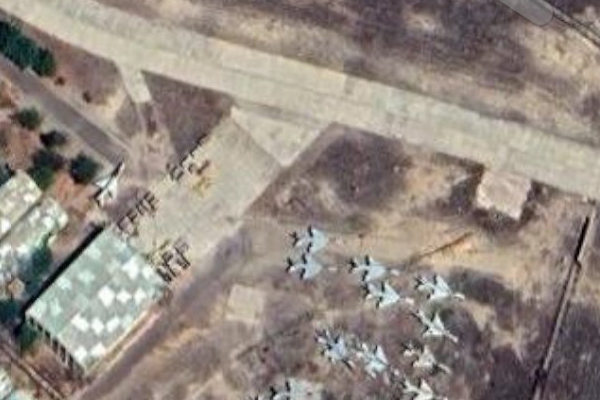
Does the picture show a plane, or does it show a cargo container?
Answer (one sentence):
It is a plane that can be seen here.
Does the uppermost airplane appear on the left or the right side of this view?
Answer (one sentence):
The uppermost airplane appears in the left half of the scene.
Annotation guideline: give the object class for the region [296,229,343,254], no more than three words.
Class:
airplane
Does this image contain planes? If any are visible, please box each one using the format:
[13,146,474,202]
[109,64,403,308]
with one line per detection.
[318,331,353,371]
[291,256,338,280]
[417,277,464,300]
[356,344,394,380]
[367,283,413,307]
[405,344,450,372]
[400,380,446,400]
[273,384,319,400]
[414,308,455,340]
[91,162,124,203]
[296,229,343,254]
[353,258,399,282]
